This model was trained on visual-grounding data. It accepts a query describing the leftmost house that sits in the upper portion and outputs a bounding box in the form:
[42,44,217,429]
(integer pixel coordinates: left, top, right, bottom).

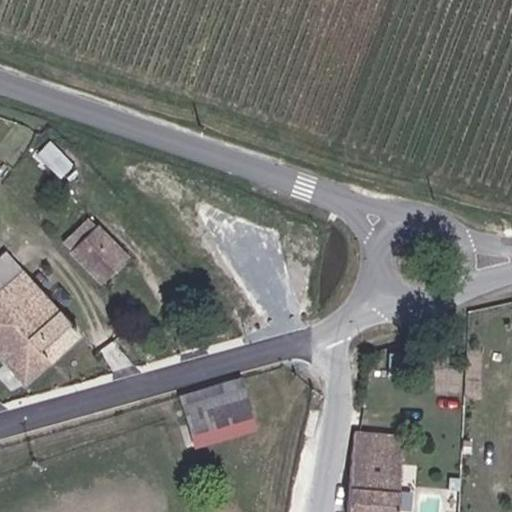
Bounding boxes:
[38,140,74,177]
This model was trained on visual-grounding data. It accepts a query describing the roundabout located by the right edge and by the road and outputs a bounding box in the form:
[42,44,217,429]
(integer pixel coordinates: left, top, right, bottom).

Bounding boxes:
[311,184,512,364]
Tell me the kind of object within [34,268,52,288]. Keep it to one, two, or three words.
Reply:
car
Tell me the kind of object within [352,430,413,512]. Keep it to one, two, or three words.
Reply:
house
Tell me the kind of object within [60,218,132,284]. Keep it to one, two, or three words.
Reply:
barn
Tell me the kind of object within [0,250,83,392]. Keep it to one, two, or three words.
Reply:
house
